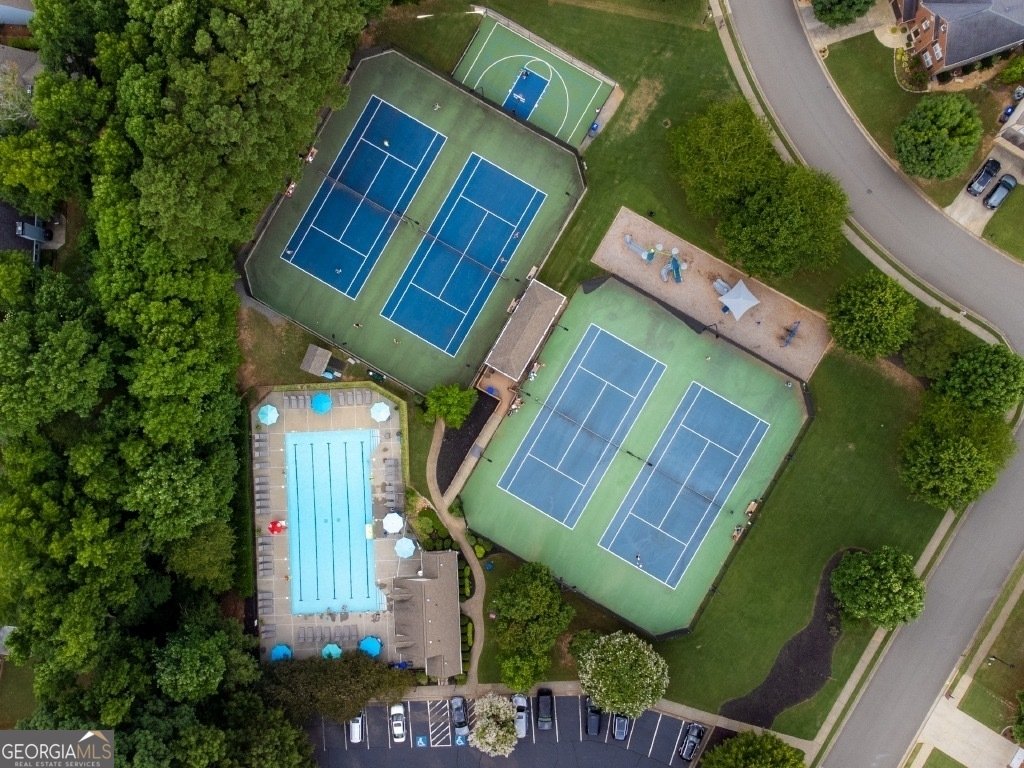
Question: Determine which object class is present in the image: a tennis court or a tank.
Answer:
tennis court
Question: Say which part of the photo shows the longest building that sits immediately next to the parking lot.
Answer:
bottom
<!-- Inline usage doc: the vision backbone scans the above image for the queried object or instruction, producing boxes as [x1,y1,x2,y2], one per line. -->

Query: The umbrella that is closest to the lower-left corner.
[270,640,293,663]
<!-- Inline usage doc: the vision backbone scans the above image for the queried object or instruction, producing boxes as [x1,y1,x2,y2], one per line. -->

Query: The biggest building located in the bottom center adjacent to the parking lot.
[391,551,461,680]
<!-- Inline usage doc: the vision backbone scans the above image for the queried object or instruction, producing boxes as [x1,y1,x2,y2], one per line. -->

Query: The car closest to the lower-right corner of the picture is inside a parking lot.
[678,720,703,762]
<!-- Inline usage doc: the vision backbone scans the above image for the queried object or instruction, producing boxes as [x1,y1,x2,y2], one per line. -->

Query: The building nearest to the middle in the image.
[485,280,567,381]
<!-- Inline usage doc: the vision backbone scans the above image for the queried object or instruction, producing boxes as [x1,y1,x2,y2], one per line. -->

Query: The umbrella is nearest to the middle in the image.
[370,401,391,422]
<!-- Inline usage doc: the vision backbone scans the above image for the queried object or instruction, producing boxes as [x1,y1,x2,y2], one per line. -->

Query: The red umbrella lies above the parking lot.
[270,518,286,534]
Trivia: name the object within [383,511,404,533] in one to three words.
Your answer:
umbrella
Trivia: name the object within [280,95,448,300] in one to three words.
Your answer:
tennis court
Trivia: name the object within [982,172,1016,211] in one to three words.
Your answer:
car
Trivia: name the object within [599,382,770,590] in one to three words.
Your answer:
tennis court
